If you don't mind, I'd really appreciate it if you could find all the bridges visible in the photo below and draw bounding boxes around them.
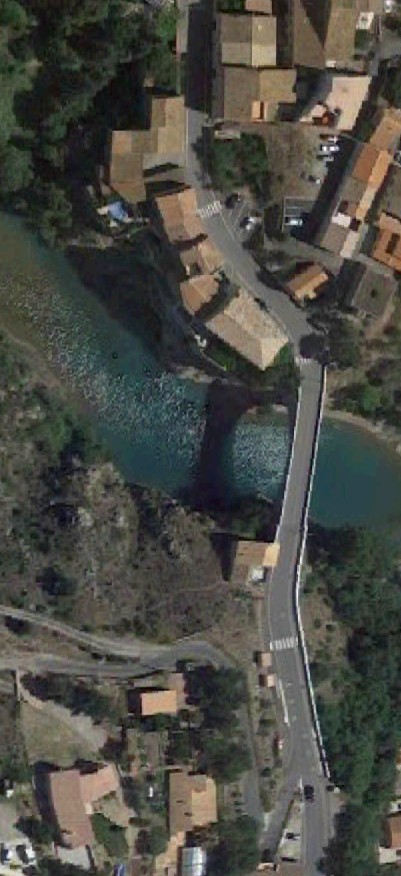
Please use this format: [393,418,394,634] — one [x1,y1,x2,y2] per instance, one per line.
[268,361,325,545]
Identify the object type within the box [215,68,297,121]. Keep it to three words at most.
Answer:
house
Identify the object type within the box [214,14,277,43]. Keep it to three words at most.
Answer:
house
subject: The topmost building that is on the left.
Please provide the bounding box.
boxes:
[103,97,186,201]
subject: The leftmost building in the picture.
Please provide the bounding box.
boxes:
[48,766,120,870]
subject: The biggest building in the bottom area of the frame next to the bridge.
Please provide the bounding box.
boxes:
[226,541,280,578]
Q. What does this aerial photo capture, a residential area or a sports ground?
residential area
